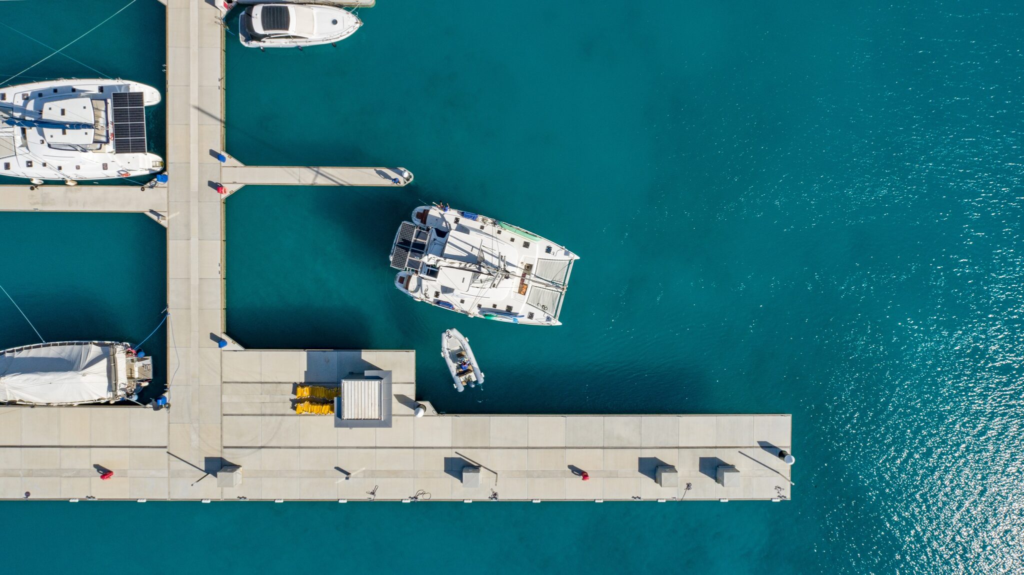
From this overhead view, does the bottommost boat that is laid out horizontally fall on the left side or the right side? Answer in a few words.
left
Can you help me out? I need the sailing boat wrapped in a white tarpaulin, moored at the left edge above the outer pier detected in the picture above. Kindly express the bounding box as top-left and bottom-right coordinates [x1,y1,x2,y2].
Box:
[0,340,153,404]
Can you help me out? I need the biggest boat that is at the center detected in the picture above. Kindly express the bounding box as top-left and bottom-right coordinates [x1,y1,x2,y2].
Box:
[391,206,580,326]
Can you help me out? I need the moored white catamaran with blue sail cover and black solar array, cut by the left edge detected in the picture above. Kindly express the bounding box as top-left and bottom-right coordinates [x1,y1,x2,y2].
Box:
[0,74,167,182]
